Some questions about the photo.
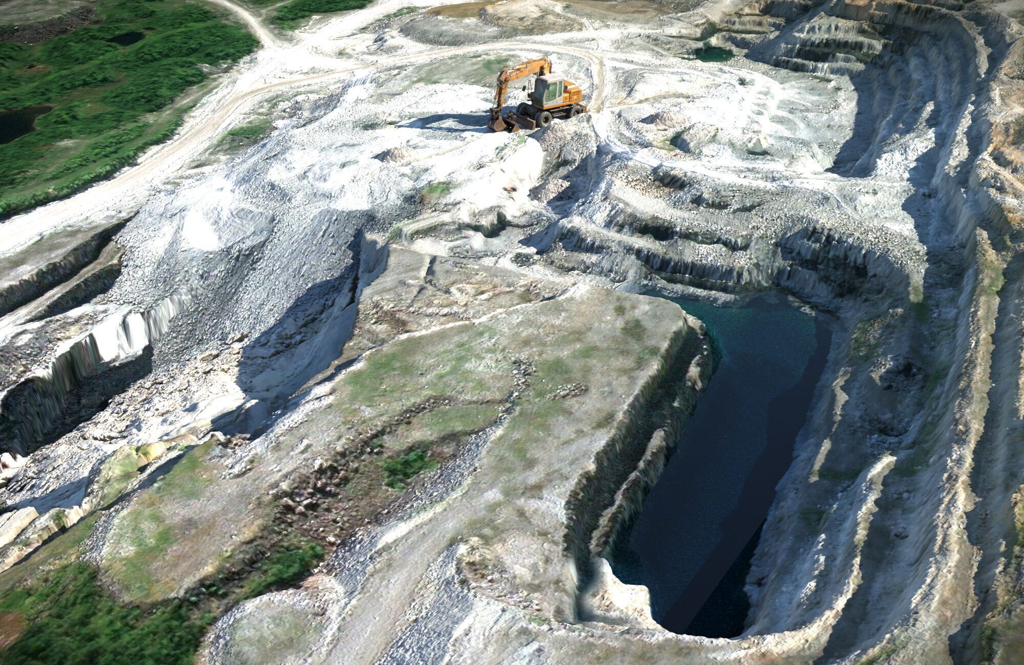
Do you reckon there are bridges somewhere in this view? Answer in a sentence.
No, I can see no bridge in this picture.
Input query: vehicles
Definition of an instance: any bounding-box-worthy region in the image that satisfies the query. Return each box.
[479,56,591,135]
